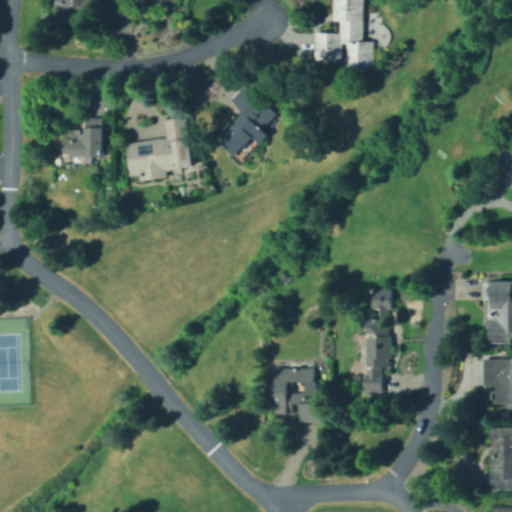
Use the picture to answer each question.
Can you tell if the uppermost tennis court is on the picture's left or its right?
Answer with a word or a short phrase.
left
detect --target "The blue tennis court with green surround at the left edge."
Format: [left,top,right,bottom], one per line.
[0,318,31,407]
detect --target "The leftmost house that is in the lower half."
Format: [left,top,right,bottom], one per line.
[273,368,316,415]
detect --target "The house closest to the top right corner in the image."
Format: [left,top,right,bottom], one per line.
[315,0,375,65]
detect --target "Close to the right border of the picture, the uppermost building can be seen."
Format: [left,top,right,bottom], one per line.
[484,281,512,346]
